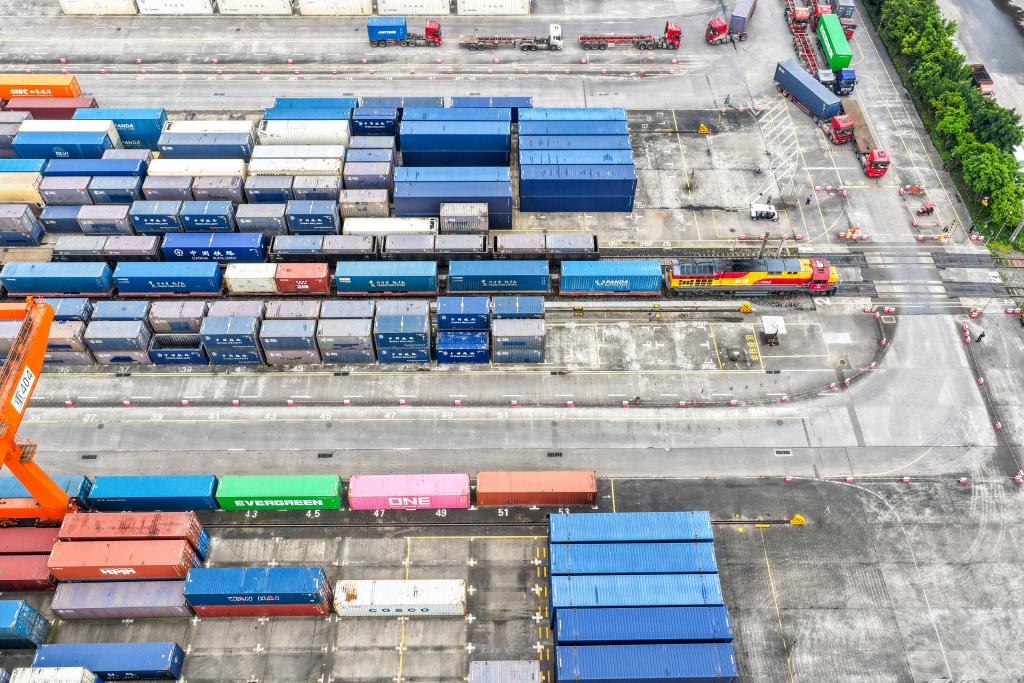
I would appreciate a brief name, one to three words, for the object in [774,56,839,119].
shipping container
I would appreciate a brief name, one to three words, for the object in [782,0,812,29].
truck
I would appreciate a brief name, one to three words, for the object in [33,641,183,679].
shipping container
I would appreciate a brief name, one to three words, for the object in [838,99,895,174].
truck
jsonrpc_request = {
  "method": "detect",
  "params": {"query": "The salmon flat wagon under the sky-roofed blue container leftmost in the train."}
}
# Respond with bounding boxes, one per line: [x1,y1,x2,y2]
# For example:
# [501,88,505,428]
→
[3,280,117,297]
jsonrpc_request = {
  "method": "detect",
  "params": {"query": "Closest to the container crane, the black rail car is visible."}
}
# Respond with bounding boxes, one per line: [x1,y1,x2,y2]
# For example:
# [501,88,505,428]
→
[52,237,165,267]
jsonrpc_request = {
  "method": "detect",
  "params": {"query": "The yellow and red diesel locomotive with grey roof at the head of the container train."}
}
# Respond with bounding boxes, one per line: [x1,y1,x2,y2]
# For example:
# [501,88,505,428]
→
[660,260,837,295]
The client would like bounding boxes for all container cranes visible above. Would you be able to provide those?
[0,301,75,527]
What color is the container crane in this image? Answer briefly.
orange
